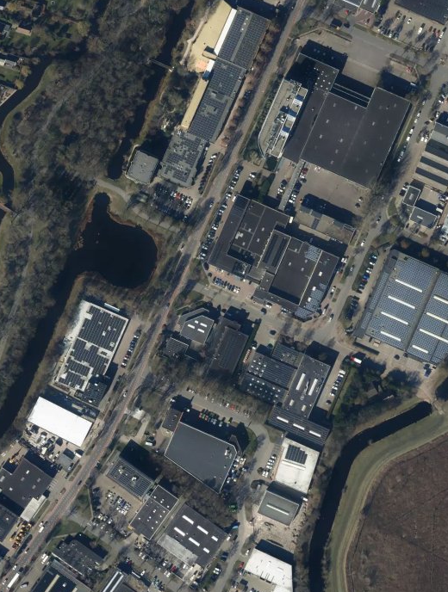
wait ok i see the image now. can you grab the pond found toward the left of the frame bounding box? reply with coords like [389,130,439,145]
[45,193,157,288]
